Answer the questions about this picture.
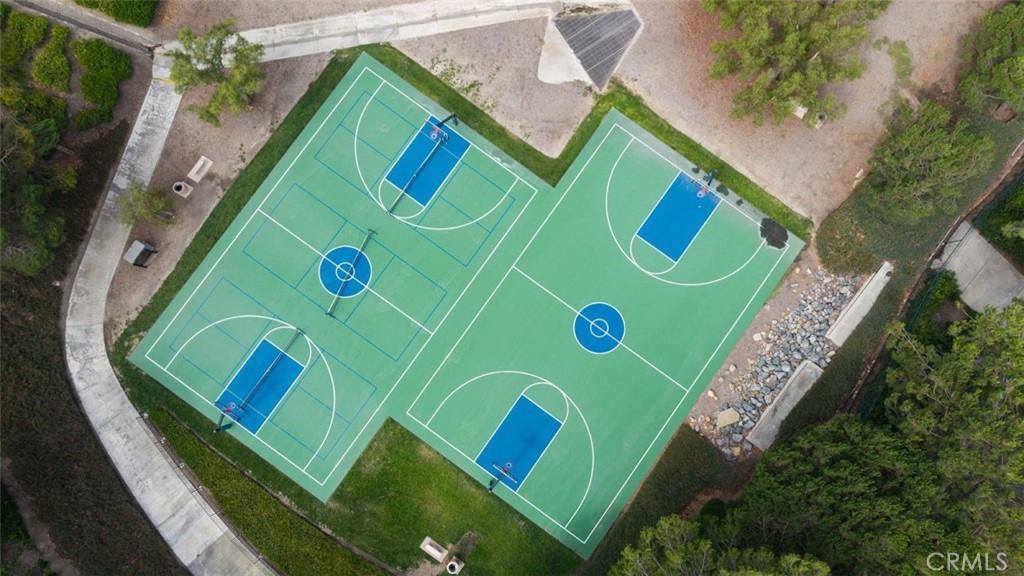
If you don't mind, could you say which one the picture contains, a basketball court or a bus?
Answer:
basketball court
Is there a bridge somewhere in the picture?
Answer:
No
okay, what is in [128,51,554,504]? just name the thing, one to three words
basketball court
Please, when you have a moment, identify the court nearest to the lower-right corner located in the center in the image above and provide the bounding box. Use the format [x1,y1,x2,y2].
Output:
[389,107,805,559]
